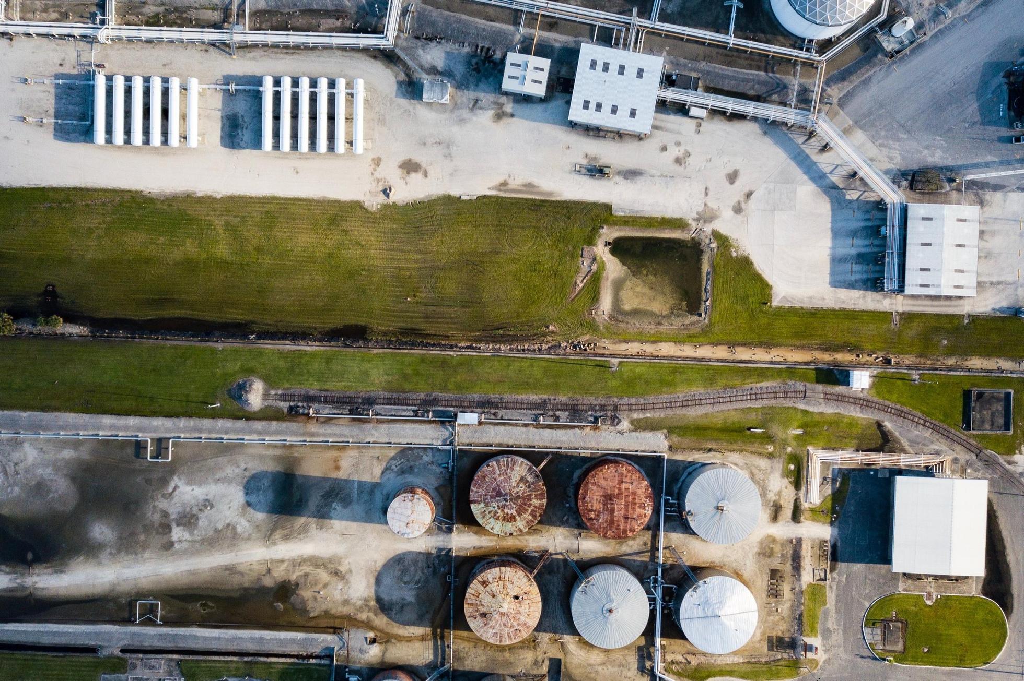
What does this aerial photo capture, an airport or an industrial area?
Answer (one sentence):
What you see here is an industrial area.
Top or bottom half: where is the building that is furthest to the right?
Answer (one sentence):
The bottom half of the photo is where the building that is furthest to the right is.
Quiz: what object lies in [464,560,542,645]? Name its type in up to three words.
storage tank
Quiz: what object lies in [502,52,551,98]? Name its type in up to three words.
building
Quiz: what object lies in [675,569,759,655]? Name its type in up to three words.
storage tank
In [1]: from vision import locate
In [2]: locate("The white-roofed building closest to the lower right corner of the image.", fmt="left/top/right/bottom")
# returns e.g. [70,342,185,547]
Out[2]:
[886,476,988,576]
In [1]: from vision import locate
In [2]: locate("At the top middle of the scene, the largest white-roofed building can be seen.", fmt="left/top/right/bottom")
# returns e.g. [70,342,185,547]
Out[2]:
[568,43,664,135]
